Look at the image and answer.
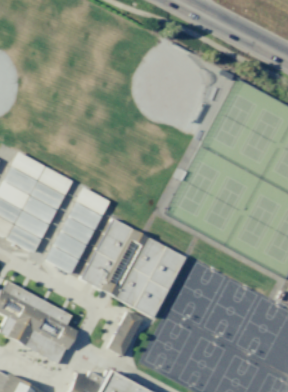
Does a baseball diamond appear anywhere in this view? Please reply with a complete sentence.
Yes, I can see a baseball diamond in this picture.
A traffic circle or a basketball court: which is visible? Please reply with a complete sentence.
The image shows a basketball court.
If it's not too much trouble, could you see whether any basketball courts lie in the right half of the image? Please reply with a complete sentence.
Yes, a basketball court can be seen in the right half of the image.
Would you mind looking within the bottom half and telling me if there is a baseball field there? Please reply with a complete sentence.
No, no baseball field is visible within the bottom half.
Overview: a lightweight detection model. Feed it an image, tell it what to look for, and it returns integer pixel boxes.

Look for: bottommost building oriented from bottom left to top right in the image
[108,312,144,356]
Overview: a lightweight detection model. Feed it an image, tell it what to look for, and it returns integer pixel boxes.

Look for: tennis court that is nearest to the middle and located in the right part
[177,164,220,216]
